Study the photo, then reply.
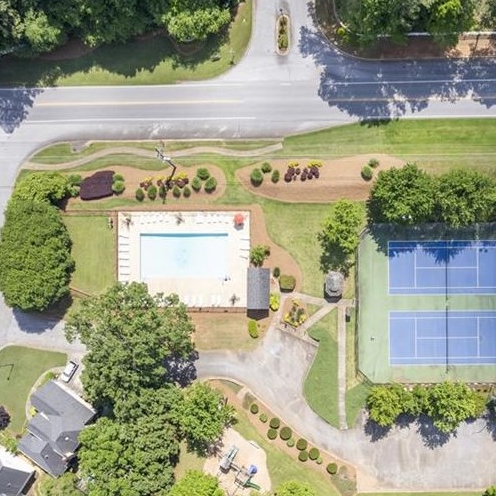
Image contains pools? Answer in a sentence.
Yes, a pool appears in the view.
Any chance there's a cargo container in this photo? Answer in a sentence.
No, I can see no cargo container in this picture.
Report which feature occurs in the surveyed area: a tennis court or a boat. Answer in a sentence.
Of the two, only a tennis court appears.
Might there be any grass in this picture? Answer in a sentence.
Yes, the picture does contain grass.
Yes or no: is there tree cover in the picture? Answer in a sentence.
Yes, the picture does contain tree cover.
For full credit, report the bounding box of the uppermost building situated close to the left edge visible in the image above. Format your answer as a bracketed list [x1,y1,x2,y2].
[17,380,101,471]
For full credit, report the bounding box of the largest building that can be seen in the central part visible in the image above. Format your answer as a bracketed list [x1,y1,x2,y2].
[247,267,268,309]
